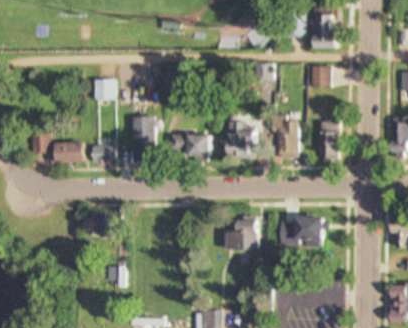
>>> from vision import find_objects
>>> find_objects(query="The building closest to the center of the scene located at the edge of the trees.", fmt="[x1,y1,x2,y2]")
[171,130,212,162]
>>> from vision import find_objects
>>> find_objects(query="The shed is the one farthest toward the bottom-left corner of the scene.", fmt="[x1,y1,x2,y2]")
[108,264,130,289]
